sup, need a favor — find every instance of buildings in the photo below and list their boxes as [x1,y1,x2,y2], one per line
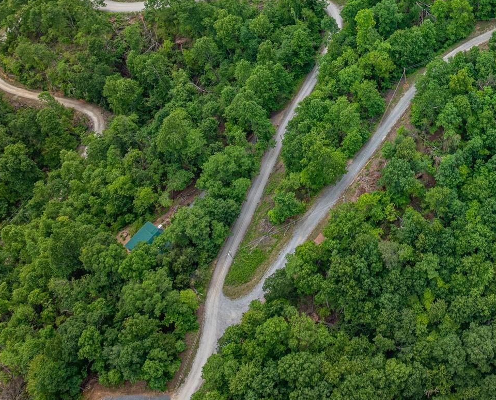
[122,221,171,257]
[312,233,329,249]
